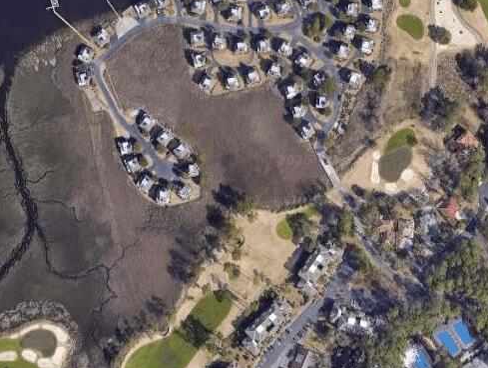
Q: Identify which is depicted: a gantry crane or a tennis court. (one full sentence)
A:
This aerial view contains a tennis court.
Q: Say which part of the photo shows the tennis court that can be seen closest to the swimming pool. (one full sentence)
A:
The tennis court that can be seen closest to the swimming pool appears toward the bottom right of the photo.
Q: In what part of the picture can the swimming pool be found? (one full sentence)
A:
The swimming pool is in the bottom right part of the image.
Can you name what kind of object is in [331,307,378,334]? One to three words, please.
building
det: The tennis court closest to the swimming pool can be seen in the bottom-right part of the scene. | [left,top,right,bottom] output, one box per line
[433,324,463,358]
